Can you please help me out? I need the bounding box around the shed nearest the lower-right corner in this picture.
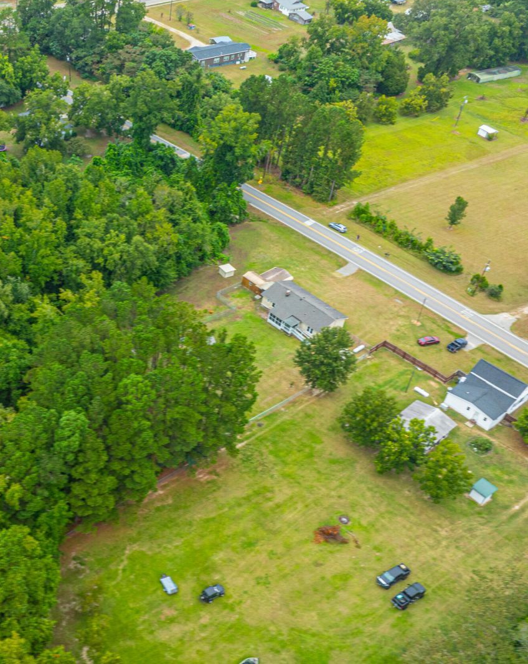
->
[468,484,499,510]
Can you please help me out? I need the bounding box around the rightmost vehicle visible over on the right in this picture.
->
[444,337,472,353]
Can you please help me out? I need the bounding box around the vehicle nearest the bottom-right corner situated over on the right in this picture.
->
[390,582,430,614]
